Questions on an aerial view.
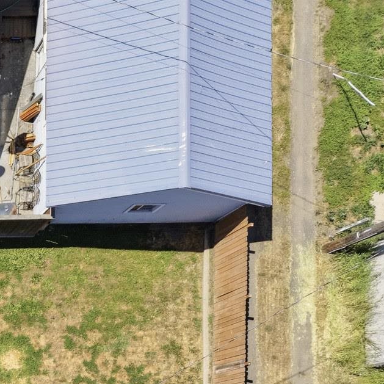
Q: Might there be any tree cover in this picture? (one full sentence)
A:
No, the scene doesn't show any tree cover.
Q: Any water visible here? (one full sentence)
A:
No, there is no water in the image.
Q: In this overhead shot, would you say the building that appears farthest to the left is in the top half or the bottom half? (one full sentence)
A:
Seen from above, the building that appears farthest to the left lies in the top half of the view.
